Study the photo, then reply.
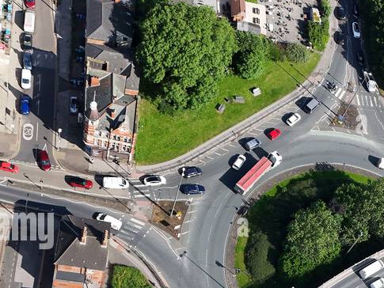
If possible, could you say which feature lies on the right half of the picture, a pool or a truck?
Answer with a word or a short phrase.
truck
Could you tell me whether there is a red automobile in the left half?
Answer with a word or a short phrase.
Yes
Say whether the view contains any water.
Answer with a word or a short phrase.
No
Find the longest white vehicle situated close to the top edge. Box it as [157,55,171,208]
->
[23,8,36,36]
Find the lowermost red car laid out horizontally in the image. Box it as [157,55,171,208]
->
[66,177,93,192]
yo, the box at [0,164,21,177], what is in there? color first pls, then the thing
red vehicle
